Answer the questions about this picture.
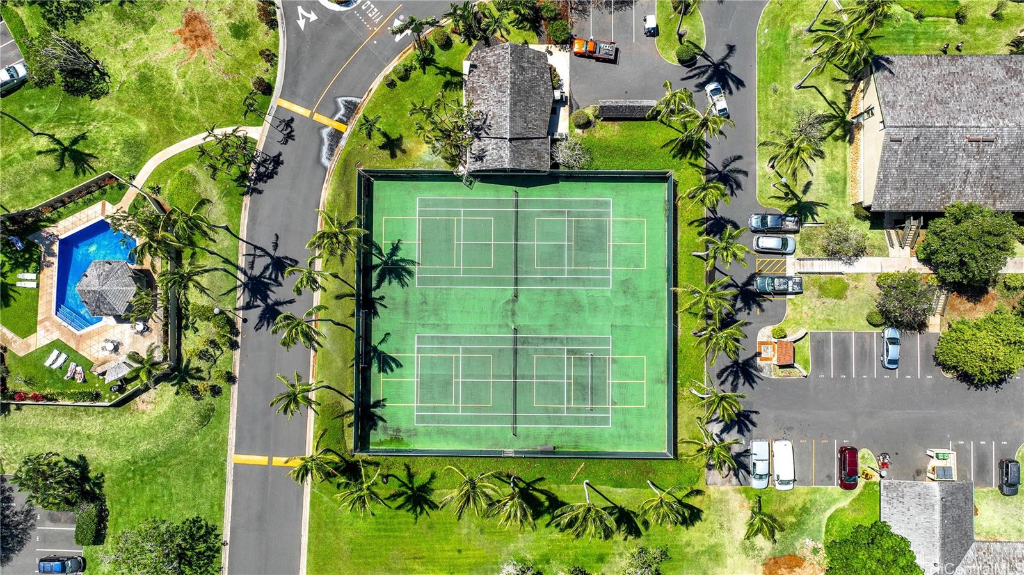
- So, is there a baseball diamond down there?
No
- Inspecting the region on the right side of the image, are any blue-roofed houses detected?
No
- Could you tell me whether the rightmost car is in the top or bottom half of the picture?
bottom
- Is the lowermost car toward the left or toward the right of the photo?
left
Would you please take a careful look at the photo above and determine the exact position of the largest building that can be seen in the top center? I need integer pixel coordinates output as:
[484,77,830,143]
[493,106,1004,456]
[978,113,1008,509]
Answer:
[465,42,554,170]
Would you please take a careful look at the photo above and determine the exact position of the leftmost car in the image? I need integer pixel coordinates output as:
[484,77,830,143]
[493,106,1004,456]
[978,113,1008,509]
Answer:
[0,65,31,91]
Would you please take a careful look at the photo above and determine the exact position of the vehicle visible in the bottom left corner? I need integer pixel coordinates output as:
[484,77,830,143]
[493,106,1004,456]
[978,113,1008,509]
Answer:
[36,554,88,575]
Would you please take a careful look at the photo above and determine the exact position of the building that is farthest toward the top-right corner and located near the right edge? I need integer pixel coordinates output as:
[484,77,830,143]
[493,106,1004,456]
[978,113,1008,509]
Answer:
[849,55,1024,249]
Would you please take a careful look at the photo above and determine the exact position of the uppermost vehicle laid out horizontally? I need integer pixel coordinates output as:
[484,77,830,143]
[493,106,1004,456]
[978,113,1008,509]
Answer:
[573,38,617,61]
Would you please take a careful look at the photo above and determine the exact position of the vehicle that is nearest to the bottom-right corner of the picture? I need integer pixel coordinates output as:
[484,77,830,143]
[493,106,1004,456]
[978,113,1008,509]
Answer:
[997,456,1022,496]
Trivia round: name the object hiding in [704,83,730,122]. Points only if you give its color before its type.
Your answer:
white car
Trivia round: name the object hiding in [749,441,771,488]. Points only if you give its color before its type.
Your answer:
white truck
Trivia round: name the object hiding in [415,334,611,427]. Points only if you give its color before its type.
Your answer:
green tennis court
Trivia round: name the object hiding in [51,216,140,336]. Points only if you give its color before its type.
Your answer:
blue swimming pool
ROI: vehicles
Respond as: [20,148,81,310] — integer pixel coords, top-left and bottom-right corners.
[838,446,861,489]
[773,441,796,490]
[997,456,1022,496]
[0,65,31,91]
[643,14,657,39]
[879,329,900,369]
[36,554,88,575]
[750,213,802,234]
[753,235,795,254]
[749,441,771,488]
[704,83,730,122]
[754,276,803,296]
[573,38,617,61]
